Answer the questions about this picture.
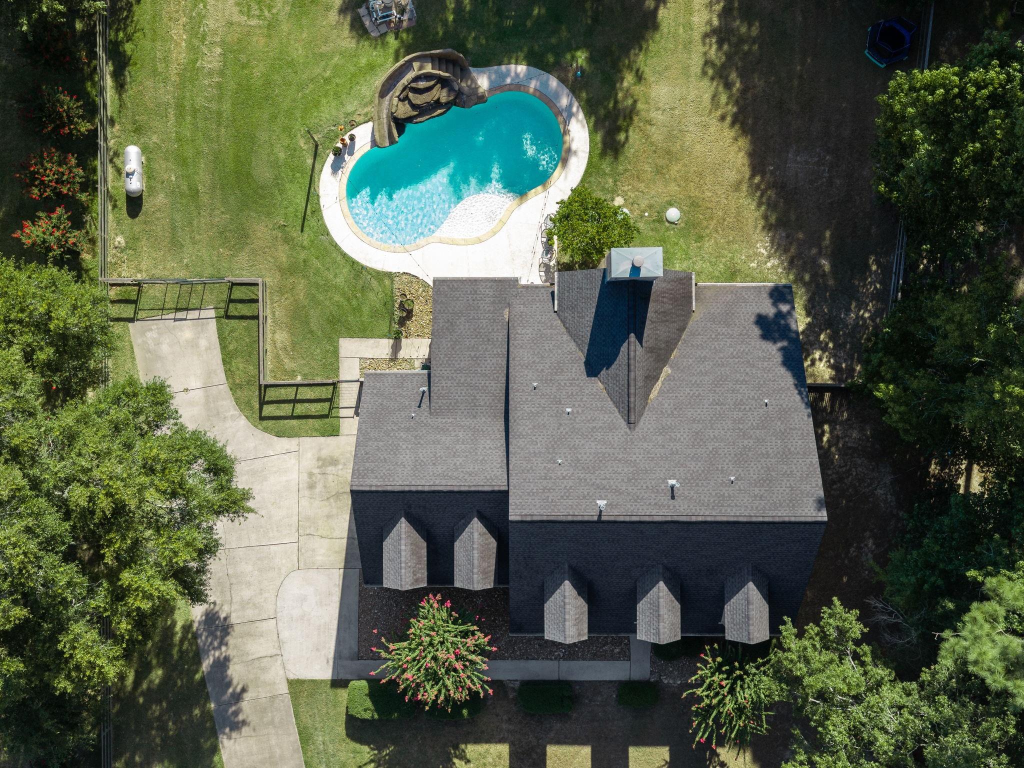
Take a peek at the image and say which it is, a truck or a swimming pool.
swimming pool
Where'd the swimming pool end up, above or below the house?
above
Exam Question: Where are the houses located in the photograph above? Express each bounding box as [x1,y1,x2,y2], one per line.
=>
[351,248,827,643]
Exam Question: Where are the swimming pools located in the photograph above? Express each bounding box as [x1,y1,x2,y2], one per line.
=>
[339,85,570,252]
